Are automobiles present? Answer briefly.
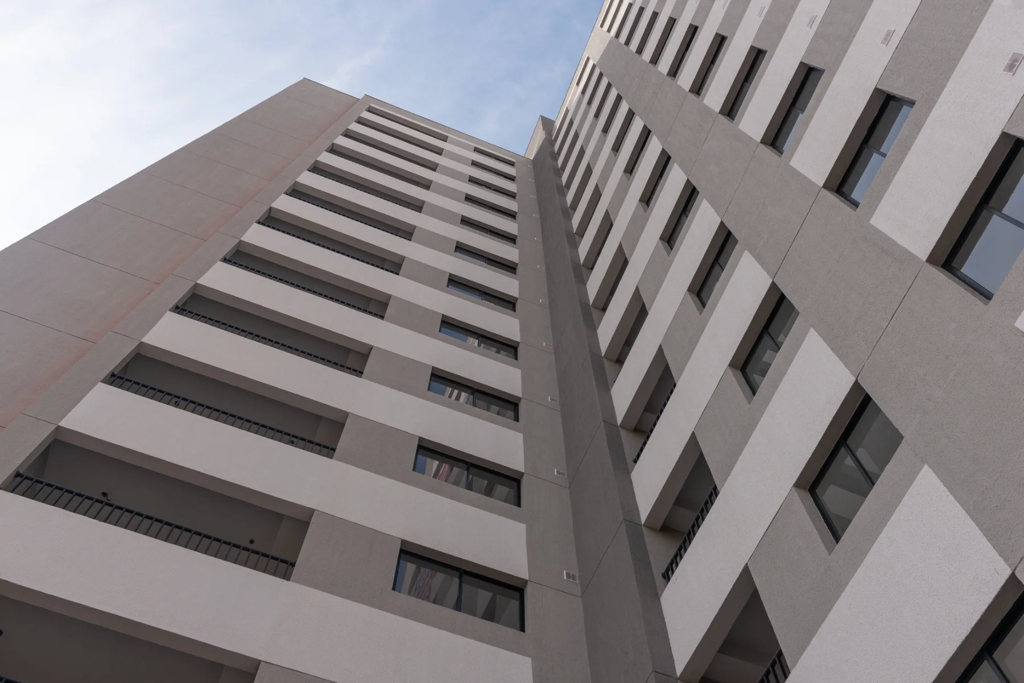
No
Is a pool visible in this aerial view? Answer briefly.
No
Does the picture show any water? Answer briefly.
No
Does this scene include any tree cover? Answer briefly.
No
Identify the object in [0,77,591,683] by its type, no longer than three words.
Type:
building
